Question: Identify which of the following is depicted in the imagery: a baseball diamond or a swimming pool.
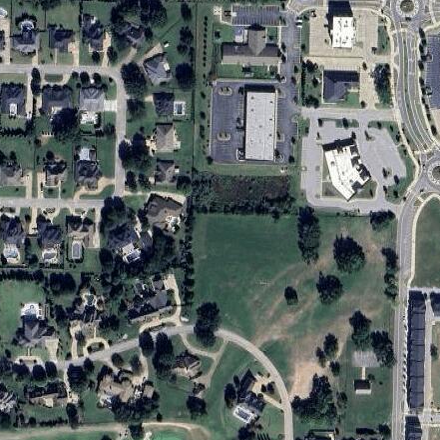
swimming pool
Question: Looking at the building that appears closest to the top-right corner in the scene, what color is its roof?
white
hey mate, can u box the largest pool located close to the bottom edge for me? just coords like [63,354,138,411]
[232,405,254,424]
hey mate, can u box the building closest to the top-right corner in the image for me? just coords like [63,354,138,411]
[334,18,354,49]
